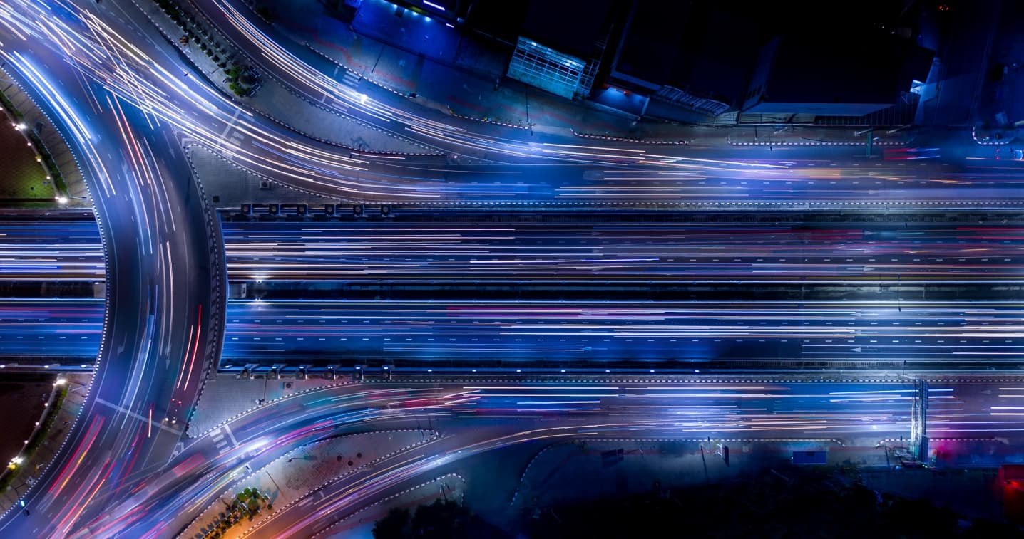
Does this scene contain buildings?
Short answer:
Yes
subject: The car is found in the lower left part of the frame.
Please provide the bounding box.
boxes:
[164,399,180,424]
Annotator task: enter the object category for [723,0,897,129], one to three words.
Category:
building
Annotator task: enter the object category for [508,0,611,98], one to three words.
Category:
building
